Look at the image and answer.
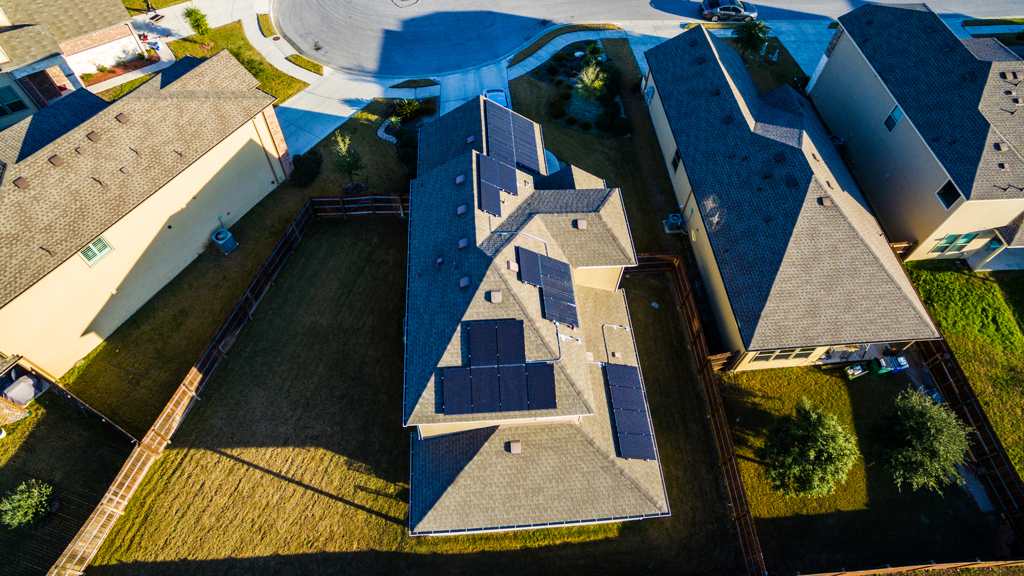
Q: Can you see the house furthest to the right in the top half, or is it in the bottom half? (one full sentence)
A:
The house furthest to the right is in the top half of the image.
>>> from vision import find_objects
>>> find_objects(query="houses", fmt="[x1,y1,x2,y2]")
[813,3,1024,270]
[642,25,944,368]
[0,48,295,427]
[400,92,674,540]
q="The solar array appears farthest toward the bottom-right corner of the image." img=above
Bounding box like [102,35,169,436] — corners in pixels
[608,362,658,462]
